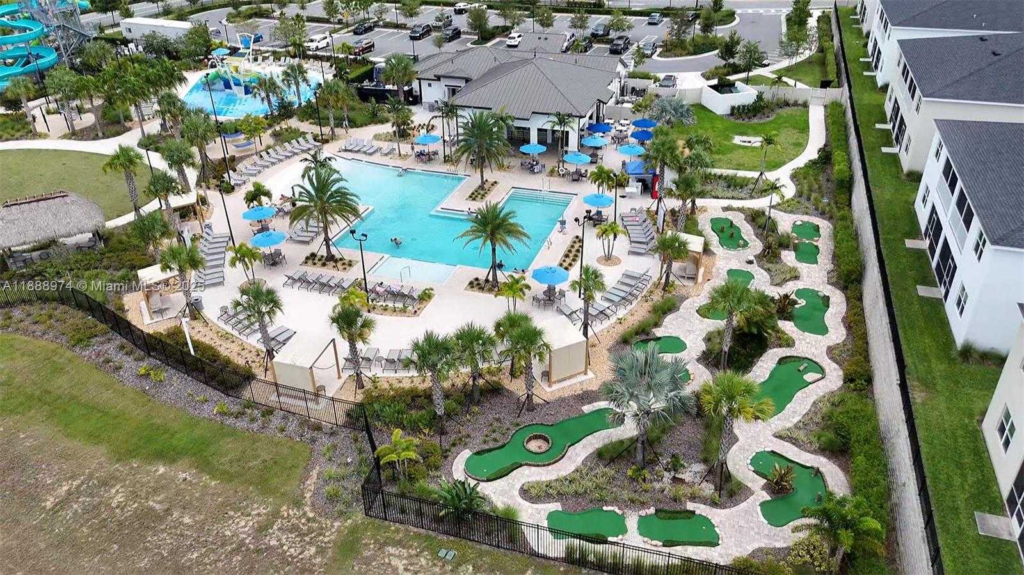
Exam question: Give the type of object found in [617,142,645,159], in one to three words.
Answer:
umbrella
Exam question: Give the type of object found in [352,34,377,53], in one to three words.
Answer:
car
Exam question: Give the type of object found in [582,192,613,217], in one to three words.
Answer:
umbrella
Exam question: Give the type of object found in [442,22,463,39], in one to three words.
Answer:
car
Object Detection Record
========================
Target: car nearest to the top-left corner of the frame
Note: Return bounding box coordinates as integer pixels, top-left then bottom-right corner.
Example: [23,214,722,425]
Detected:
[207,23,226,36]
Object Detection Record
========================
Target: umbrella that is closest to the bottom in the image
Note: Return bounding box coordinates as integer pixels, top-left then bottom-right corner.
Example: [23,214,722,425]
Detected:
[532,266,568,294]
